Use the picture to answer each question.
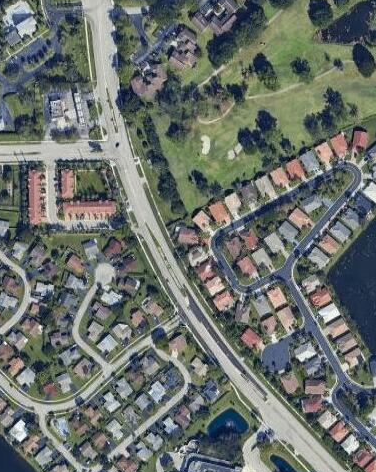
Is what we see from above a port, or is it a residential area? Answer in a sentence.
It's a residential area.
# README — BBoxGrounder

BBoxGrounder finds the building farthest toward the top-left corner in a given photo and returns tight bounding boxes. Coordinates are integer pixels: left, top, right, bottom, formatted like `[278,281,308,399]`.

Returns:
[2,0,36,45]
